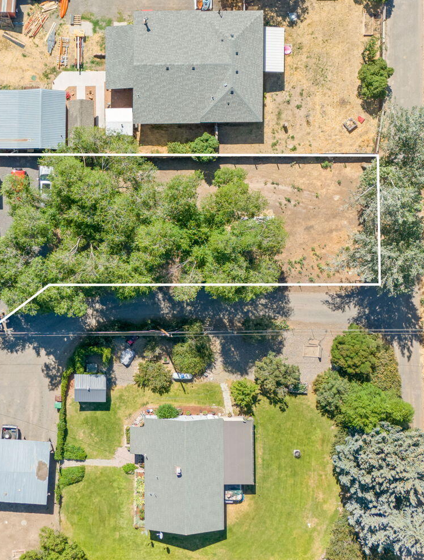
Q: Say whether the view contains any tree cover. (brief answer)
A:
Yes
